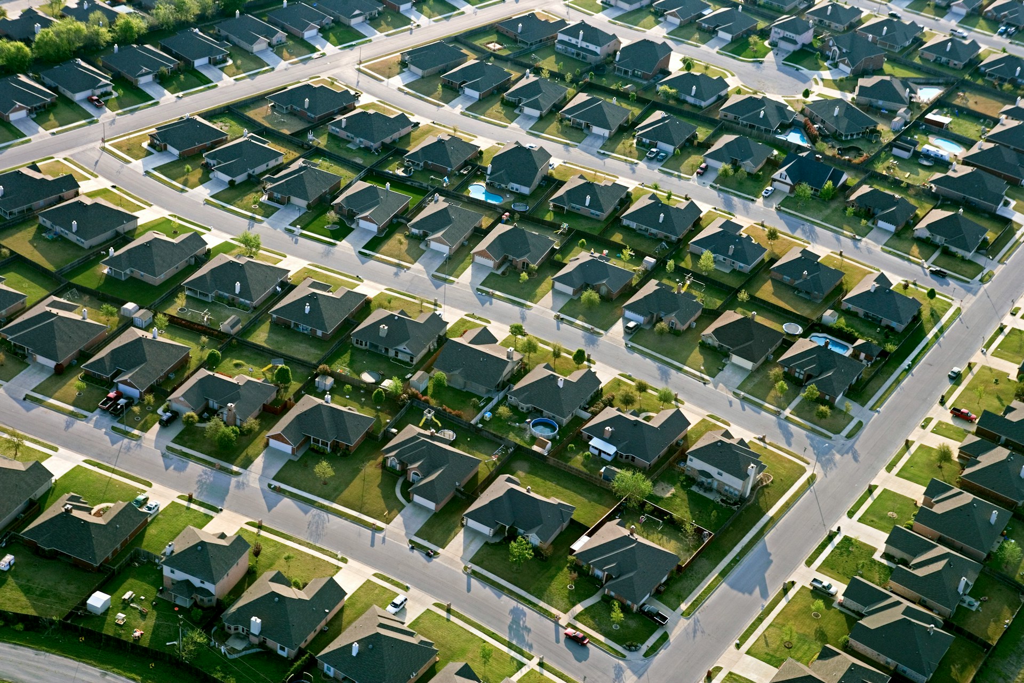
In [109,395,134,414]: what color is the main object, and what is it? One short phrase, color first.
black vehicle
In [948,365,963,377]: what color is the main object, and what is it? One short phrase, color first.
white vehicle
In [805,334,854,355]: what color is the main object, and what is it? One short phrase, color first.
blue swimming pool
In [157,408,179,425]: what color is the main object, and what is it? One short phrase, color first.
black car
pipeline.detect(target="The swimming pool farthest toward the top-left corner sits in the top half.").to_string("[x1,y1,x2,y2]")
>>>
[464,182,507,204]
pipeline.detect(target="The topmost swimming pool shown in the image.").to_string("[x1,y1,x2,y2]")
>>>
[913,85,946,101]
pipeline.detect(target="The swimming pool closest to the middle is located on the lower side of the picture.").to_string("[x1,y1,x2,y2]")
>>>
[532,421,558,440]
